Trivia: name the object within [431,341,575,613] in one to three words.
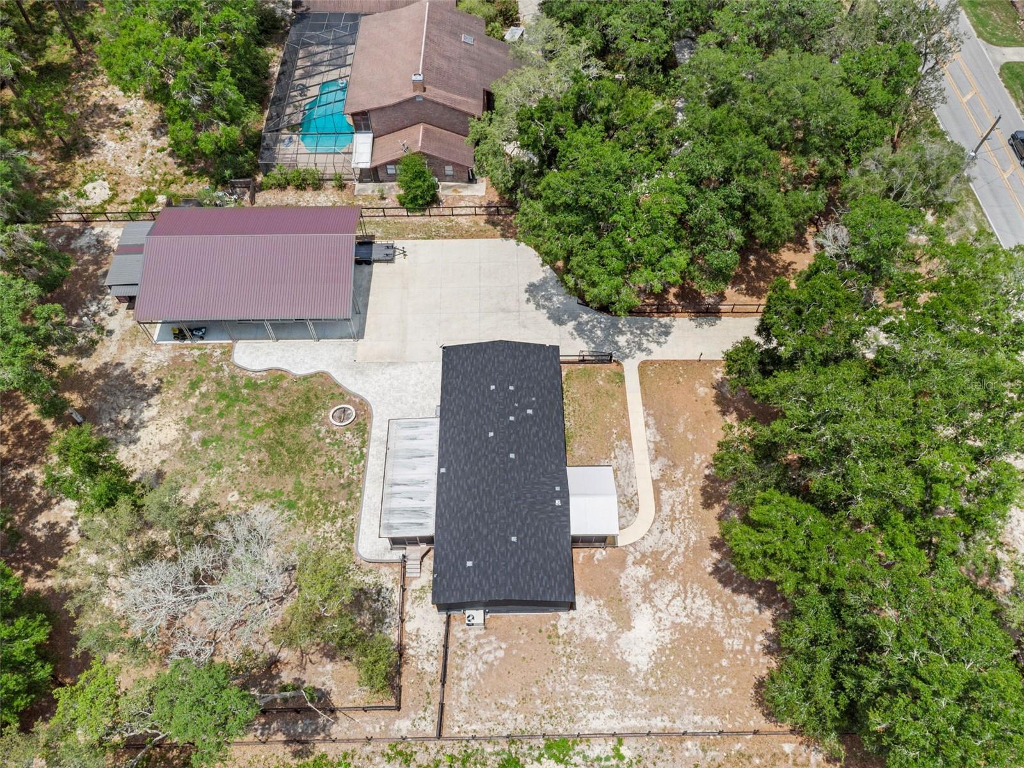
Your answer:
house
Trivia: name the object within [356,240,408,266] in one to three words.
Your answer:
trailer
